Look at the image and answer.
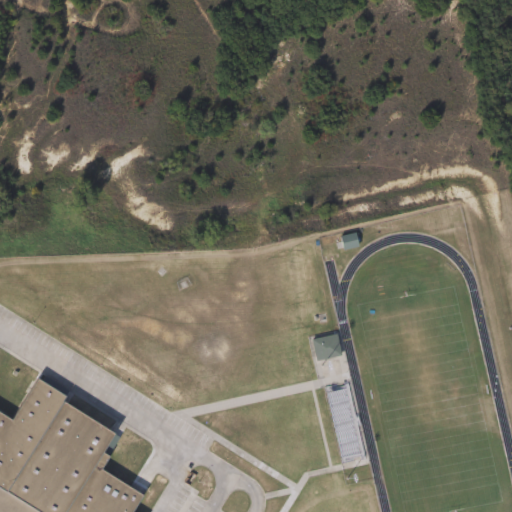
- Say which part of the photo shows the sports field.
bottom right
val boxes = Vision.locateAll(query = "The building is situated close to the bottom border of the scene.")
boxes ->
[0,380,144,512]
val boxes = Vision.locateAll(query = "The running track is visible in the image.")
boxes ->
[320,232,512,512]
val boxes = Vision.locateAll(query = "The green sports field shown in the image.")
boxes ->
[357,284,502,512]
